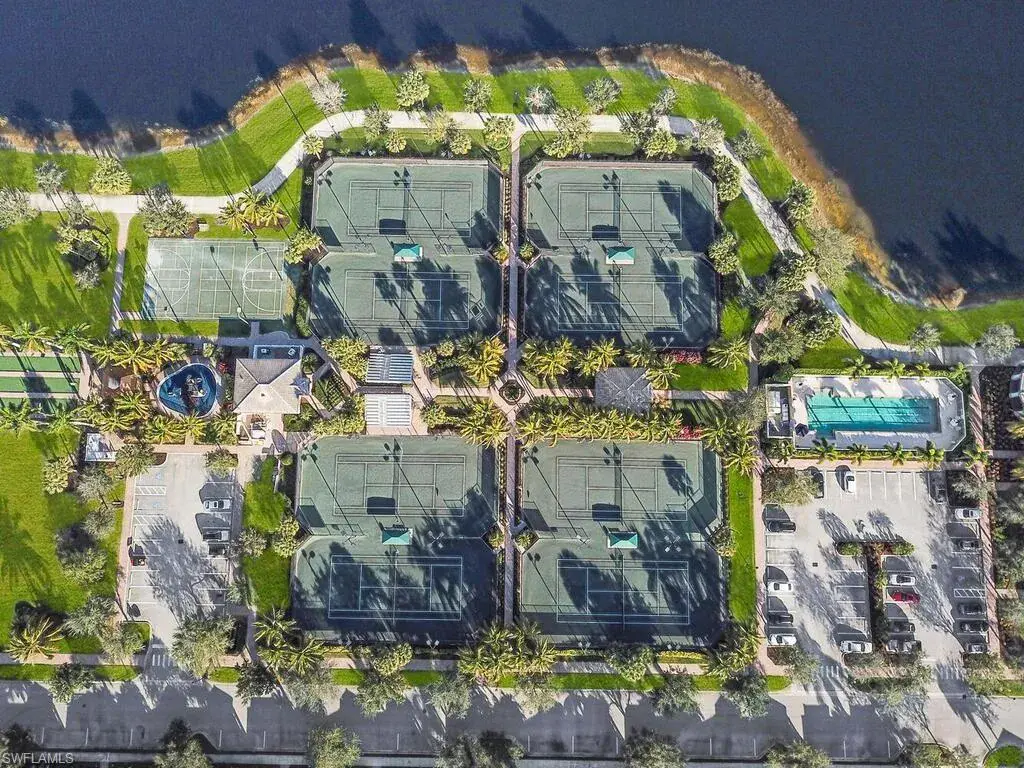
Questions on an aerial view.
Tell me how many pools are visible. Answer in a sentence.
I count 2 pools.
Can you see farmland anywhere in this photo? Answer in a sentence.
No, the picture contains no farmland.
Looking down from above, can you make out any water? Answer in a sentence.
Yes, water can be seen from above here.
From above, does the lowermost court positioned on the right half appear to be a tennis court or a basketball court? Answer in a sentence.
From above, the lowermost court positioned on the right half can be identified as a tennis court.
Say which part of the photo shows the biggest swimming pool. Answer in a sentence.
The biggest swimming pool appears toward the right of the photo.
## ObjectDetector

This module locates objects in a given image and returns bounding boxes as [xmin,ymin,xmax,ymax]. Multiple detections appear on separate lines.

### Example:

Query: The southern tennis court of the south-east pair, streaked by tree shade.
[522,535,728,645]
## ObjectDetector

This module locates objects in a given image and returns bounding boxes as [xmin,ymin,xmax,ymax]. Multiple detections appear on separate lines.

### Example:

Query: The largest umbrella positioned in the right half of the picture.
[794,423,811,440]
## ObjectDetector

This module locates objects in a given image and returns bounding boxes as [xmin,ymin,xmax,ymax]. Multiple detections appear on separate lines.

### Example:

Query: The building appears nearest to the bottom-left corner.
[85,433,124,458]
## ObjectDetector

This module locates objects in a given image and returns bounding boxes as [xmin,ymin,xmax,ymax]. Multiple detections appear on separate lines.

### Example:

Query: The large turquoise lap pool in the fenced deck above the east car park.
[792,376,966,449]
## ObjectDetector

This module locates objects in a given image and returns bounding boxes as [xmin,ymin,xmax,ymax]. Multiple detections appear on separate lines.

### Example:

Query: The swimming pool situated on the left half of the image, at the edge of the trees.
[156,361,219,418]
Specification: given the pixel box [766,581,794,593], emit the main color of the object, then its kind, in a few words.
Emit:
white vehicle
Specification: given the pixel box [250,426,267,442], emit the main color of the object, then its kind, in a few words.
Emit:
white umbrella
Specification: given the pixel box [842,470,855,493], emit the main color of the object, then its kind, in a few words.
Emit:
white vehicle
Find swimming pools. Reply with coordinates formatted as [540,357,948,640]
[156,361,219,418]
[792,376,966,449]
